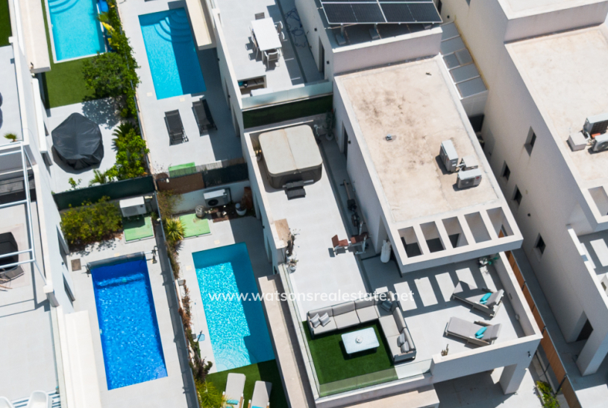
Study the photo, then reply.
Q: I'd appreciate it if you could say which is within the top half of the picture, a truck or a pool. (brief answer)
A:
pool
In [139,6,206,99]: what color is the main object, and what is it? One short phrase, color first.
blue swimming pool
